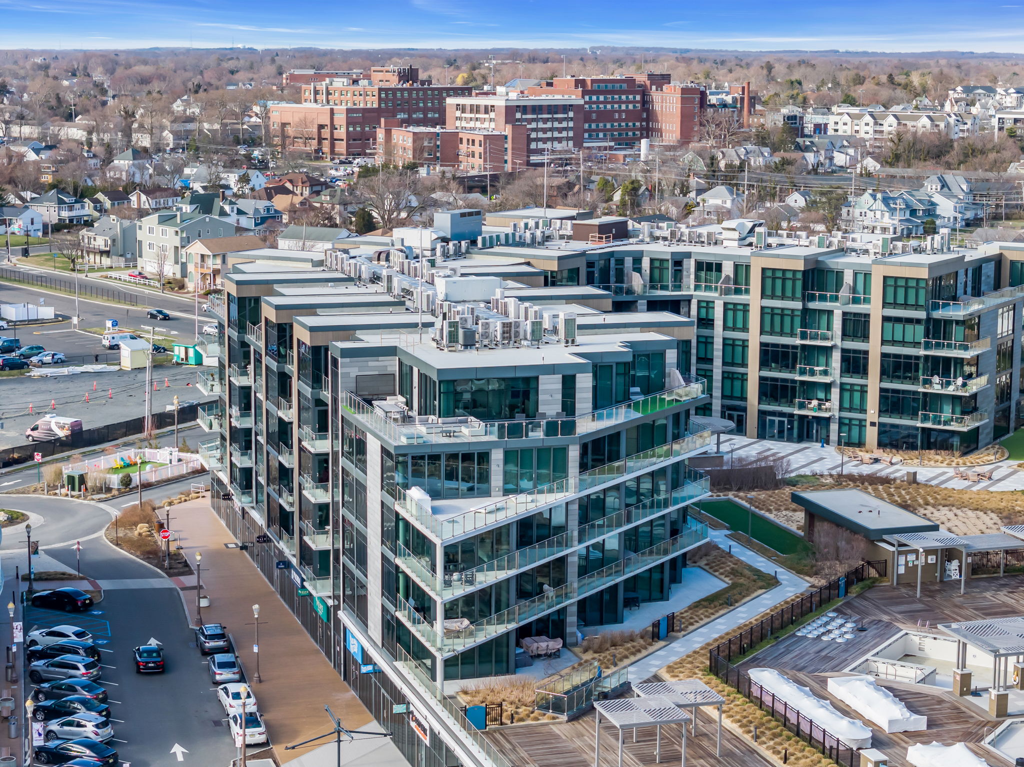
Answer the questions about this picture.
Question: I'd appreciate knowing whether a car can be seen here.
Yes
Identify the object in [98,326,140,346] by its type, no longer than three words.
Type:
vehicle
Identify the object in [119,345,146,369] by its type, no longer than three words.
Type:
shed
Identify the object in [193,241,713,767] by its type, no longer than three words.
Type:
building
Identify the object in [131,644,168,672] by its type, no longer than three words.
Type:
car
